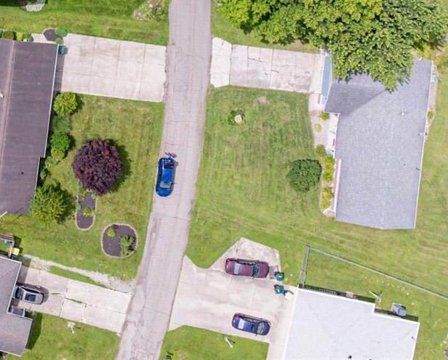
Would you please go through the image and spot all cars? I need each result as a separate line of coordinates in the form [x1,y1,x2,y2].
[12,281,46,306]
[229,310,273,336]
[225,257,267,279]
[155,158,175,196]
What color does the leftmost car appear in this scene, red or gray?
gray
